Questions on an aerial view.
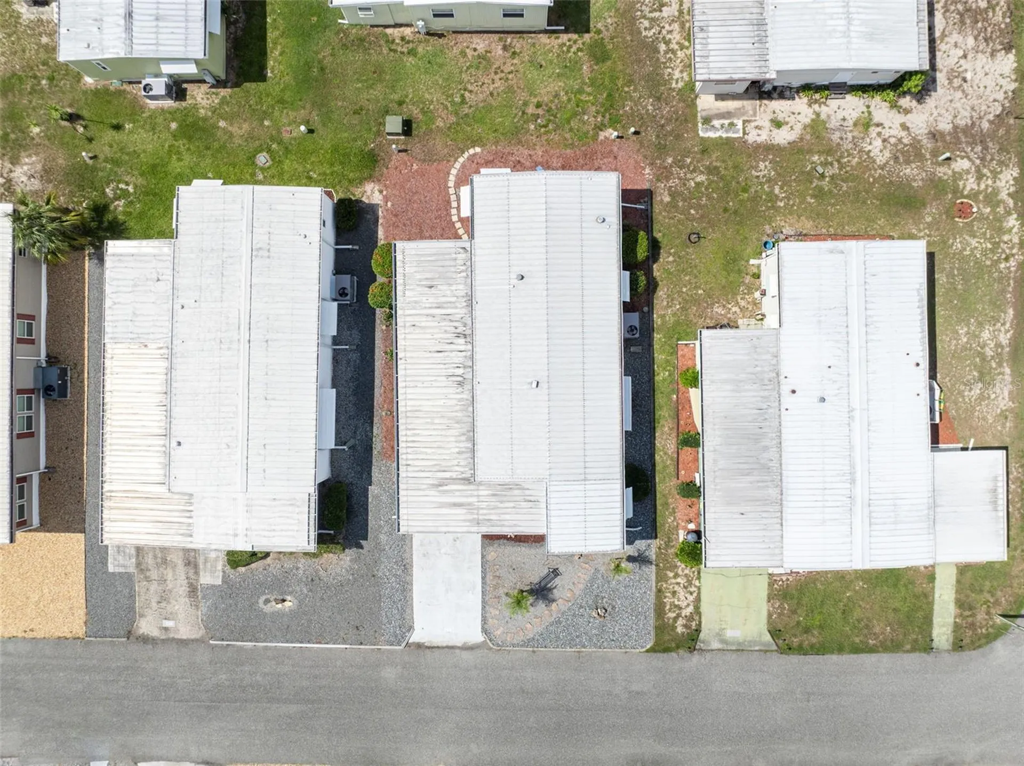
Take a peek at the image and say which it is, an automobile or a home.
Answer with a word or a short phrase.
home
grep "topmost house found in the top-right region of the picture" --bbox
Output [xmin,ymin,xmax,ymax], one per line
[690,0,930,98]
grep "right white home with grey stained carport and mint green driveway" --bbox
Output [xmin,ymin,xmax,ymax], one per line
[692,239,1009,571]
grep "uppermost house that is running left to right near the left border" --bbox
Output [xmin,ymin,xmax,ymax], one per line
[48,0,225,82]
